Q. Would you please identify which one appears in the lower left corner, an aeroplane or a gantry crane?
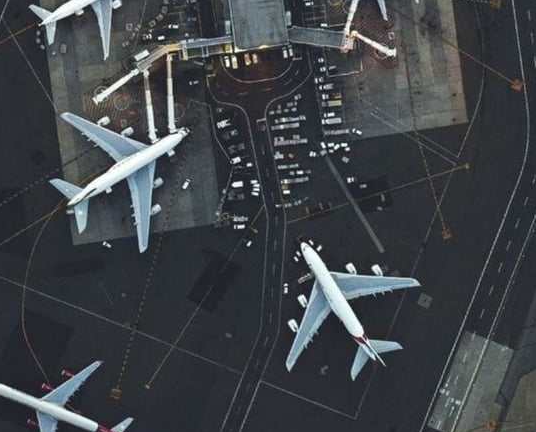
aeroplane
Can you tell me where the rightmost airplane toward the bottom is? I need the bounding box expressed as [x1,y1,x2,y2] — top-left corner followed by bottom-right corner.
[286,243,429,379]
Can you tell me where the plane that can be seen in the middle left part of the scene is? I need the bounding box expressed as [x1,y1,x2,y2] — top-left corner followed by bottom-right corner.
[50,114,187,256]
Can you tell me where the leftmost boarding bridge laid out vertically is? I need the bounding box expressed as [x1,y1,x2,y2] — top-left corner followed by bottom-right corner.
[142,69,157,144]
